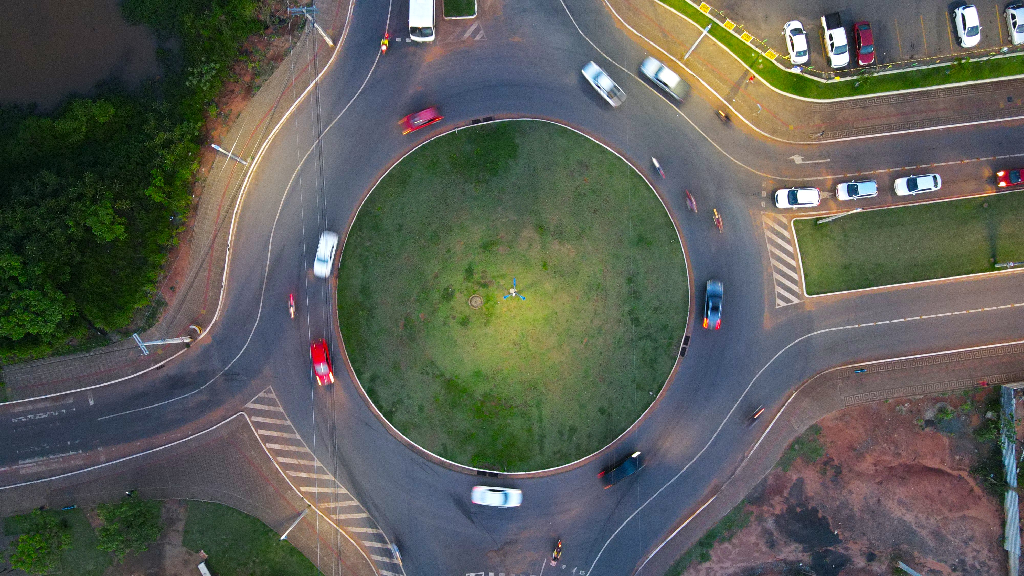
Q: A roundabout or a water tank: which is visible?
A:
roundabout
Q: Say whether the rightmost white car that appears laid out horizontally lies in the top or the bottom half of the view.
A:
top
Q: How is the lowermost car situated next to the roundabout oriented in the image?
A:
from left to right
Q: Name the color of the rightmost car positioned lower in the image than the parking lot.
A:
red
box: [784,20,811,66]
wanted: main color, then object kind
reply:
white car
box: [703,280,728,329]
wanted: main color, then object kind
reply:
blue car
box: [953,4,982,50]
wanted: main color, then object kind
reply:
white car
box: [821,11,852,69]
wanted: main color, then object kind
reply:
white vehicle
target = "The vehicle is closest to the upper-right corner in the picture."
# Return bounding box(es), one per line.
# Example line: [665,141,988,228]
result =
[1000,2,1024,48]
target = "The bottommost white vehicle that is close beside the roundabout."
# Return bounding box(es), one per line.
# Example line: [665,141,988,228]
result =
[472,485,521,509]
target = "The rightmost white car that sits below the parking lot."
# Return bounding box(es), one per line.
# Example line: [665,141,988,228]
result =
[892,173,943,197]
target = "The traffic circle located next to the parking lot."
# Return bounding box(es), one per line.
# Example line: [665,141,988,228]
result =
[329,112,697,480]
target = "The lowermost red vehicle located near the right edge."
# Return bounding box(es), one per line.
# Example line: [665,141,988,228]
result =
[994,165,1024,187]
